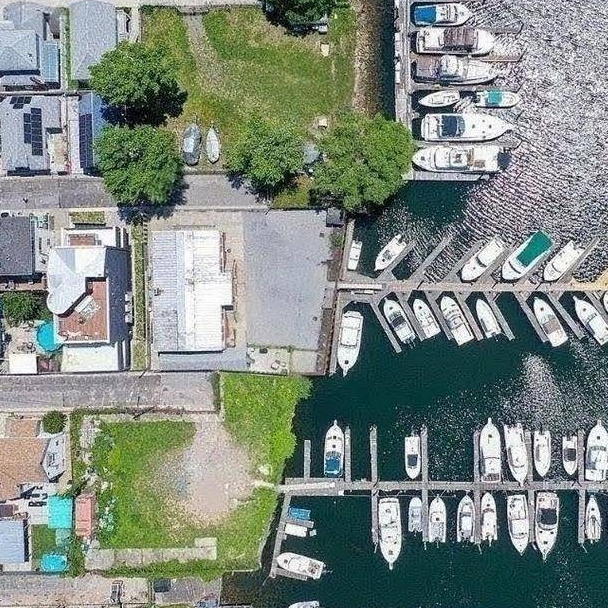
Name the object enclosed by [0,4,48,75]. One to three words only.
house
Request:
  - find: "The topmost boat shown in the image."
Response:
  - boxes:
[413,2,474,26]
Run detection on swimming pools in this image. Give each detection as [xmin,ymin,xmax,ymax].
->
[41,552,69,572]
[34,323,61,351]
